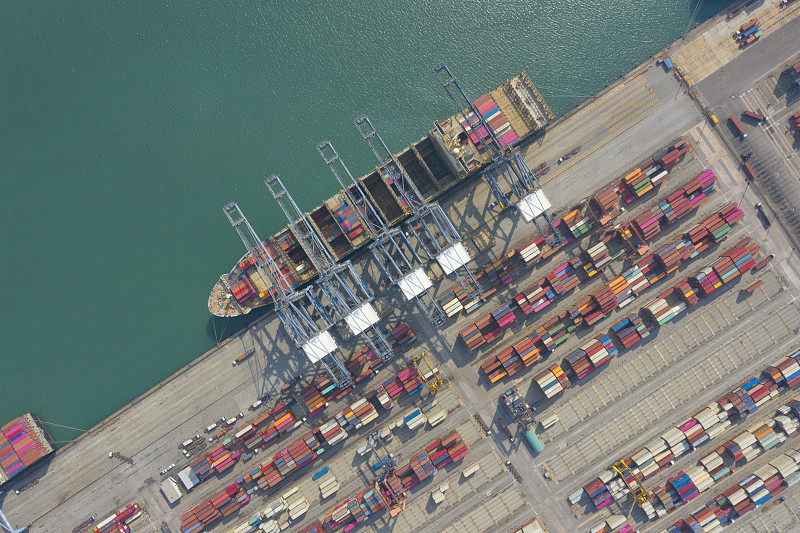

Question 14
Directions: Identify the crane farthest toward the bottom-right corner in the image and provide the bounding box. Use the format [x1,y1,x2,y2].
[604,452,647,501]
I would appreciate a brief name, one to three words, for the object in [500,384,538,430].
crane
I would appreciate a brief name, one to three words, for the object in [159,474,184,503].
building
